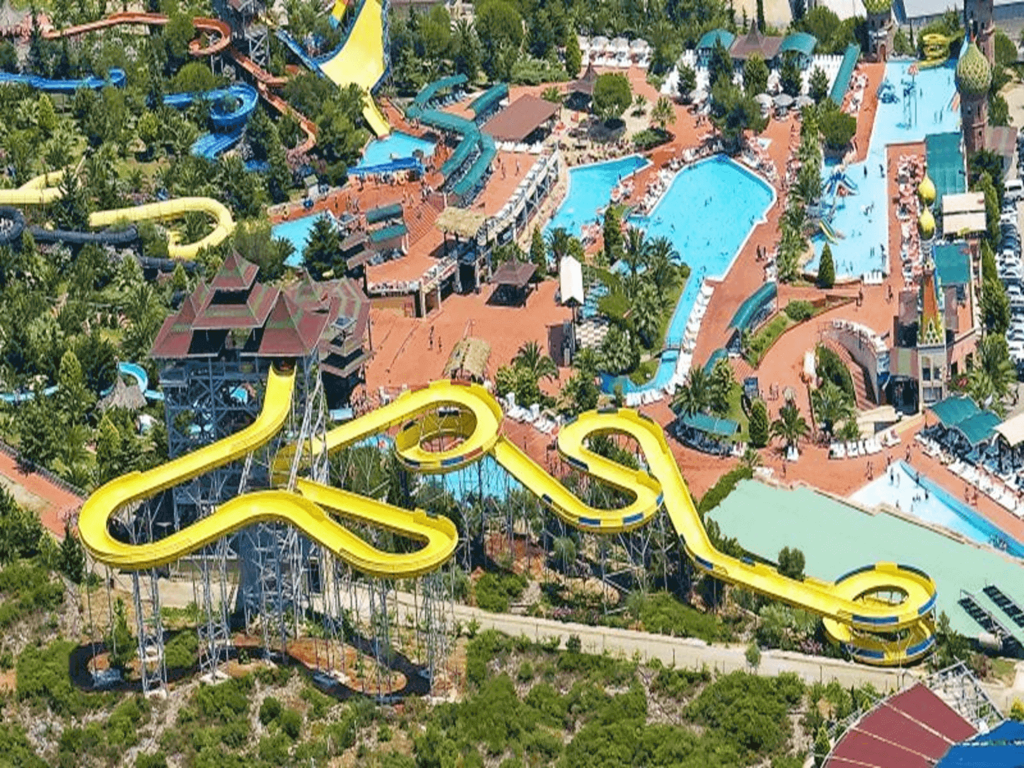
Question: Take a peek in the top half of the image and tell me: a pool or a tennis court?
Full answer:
The one visible in the top half of the image is a pool.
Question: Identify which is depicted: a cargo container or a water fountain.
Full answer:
The one in the frame is a water fountain.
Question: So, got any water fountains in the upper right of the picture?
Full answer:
Yes, looking in the upper right of the picture, one can make out a water fountain.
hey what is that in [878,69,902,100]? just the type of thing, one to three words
fountain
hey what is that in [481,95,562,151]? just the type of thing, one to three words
building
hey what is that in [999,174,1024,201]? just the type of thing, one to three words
vehicle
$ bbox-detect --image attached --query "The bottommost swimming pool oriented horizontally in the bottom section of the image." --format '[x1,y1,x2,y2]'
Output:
[435,457,530,504]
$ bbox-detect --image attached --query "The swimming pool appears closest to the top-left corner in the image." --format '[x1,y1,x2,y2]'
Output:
[273,211,337,264]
